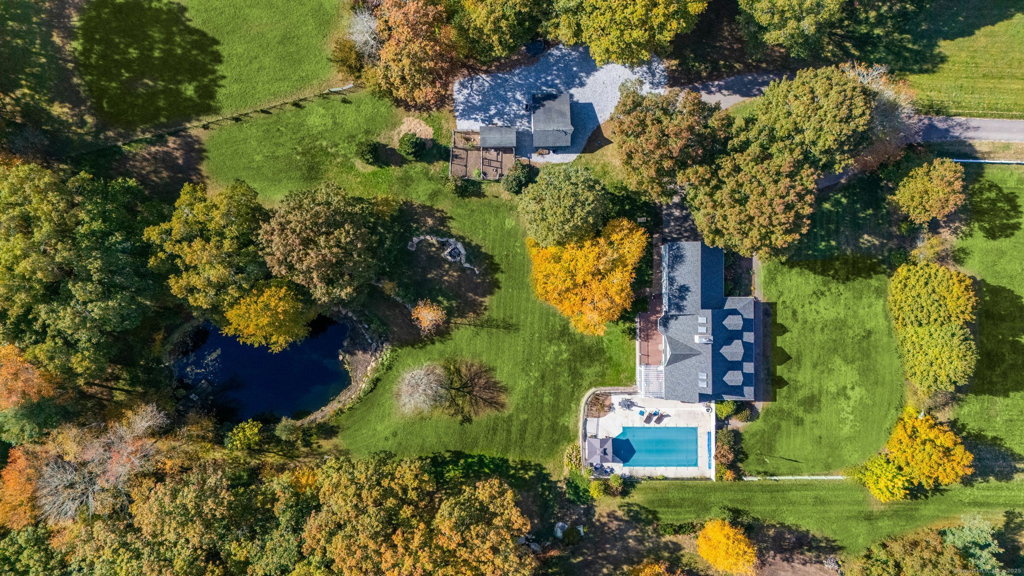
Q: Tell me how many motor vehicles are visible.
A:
0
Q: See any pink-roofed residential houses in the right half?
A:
No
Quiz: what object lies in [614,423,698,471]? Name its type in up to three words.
swimming pool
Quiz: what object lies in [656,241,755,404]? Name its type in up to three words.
house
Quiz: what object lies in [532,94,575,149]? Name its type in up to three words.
barn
